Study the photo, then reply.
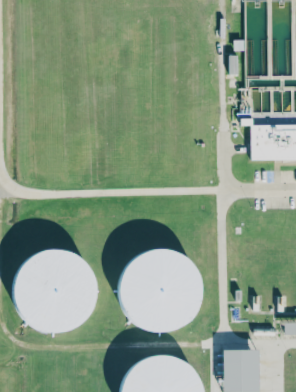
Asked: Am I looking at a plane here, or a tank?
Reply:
tank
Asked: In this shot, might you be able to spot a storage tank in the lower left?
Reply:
Yes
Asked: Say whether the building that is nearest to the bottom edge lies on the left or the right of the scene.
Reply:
right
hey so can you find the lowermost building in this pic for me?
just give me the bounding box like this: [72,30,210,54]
[223,350,260,392]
